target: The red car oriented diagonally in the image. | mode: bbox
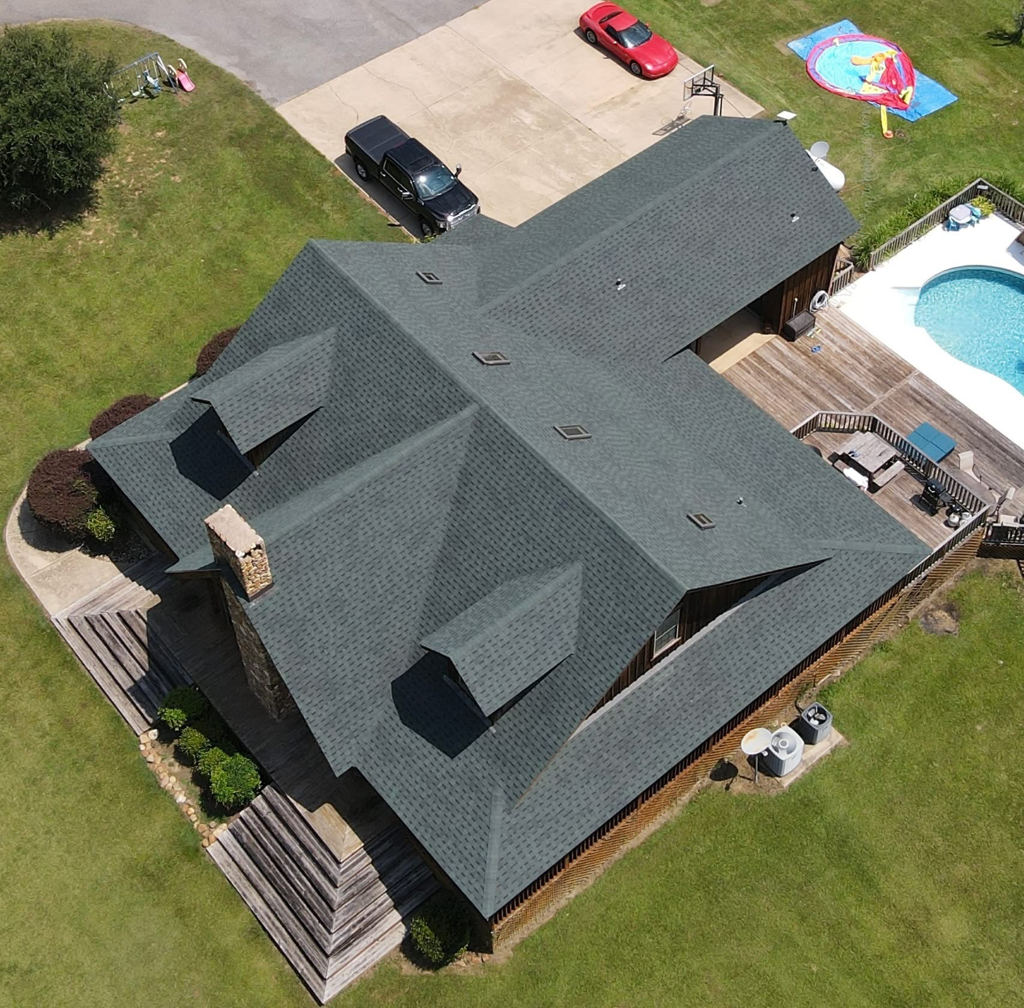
[584,4,678,79]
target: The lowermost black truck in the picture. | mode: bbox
[344,120,479,238]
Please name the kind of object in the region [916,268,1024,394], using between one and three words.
swimming pool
